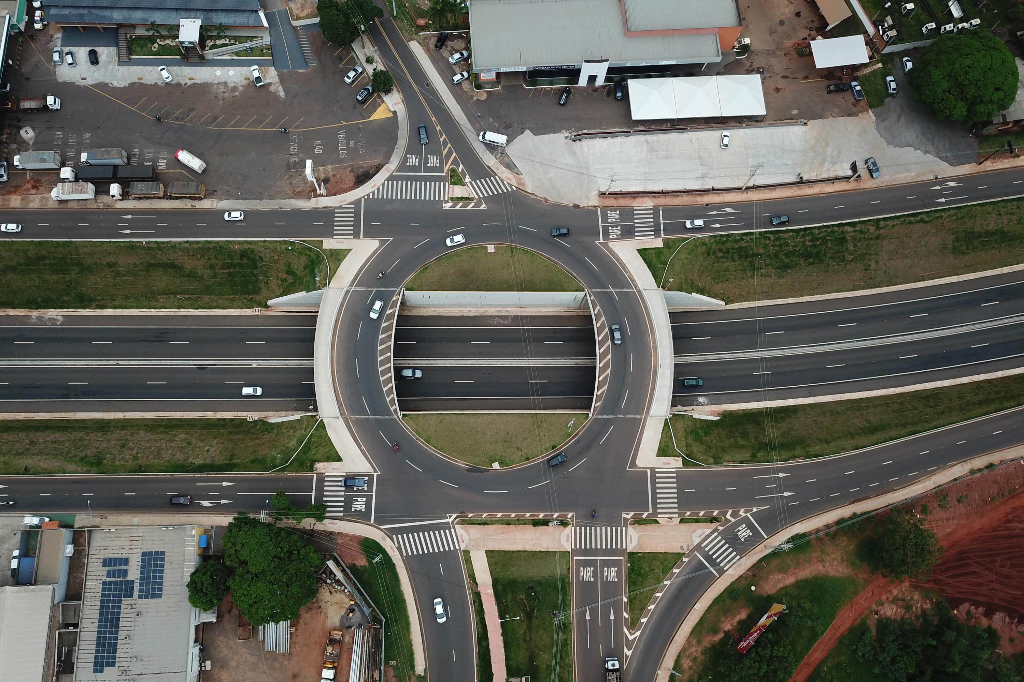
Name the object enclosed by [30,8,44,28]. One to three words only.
car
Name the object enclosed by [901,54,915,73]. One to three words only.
car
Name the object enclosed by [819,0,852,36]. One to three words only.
shed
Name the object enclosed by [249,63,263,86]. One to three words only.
vehicle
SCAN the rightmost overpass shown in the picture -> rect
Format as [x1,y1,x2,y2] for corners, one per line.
[585,285,675,417]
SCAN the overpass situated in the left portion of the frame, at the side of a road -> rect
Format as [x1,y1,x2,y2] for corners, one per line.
[312,287,404,417]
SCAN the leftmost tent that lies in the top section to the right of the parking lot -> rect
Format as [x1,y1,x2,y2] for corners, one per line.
[625,77,677,126]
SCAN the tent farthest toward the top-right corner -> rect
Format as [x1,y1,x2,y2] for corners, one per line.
[716,74,766,121]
